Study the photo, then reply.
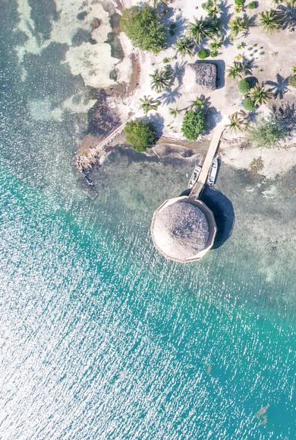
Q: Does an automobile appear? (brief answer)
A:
No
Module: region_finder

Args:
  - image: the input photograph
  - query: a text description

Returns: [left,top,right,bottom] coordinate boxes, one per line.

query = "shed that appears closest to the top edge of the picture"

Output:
[183,62,218,94]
